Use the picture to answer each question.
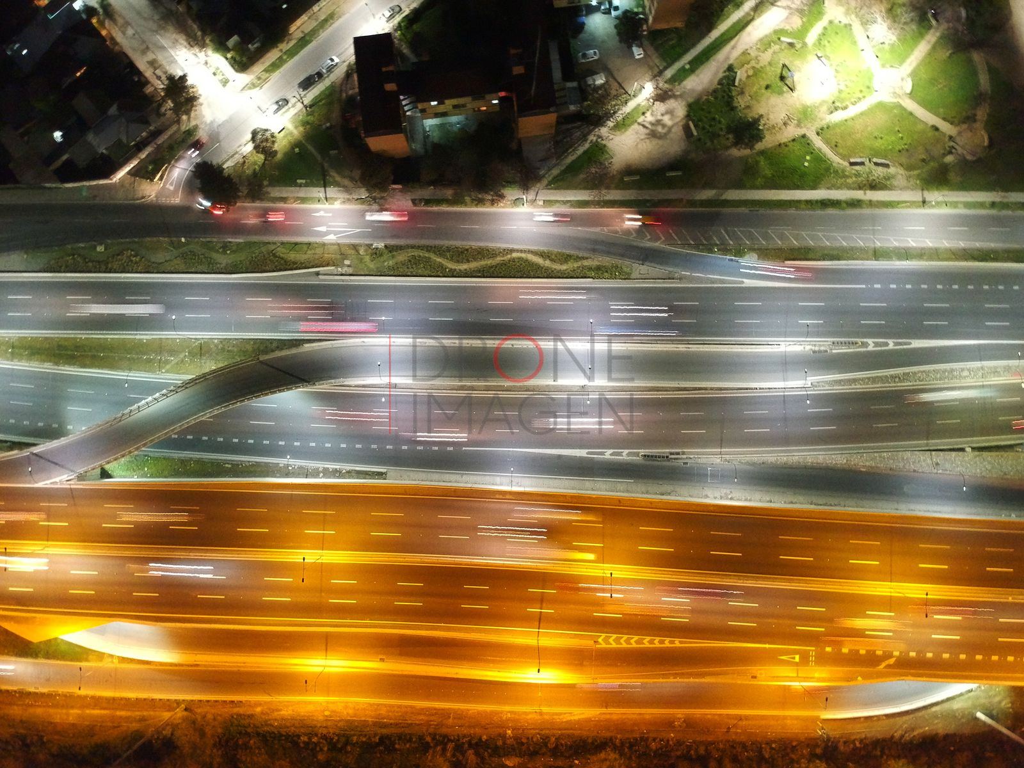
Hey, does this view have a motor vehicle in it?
Yes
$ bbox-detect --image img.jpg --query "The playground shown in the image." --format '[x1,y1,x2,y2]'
[735,39,839,134]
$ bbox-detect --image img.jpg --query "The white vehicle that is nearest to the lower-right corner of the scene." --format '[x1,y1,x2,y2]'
[919,387,980,404]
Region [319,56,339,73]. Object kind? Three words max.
car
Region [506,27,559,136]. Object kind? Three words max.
building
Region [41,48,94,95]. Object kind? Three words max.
house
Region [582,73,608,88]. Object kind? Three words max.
vehicle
